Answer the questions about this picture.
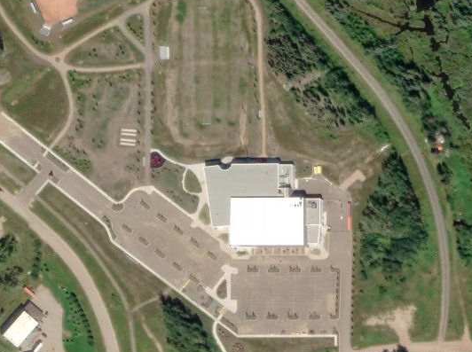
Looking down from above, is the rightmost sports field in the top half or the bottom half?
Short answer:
top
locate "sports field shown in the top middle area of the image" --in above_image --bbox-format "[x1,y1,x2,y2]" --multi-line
[162,0,259,155]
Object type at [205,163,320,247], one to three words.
building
